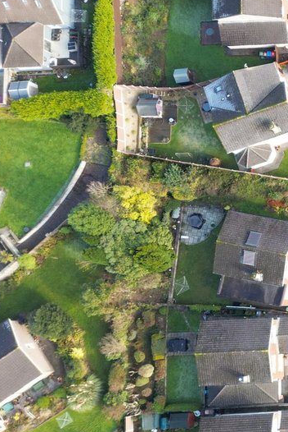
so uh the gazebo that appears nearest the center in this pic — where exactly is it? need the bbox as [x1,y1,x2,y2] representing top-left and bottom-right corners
[188,213,205,229]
